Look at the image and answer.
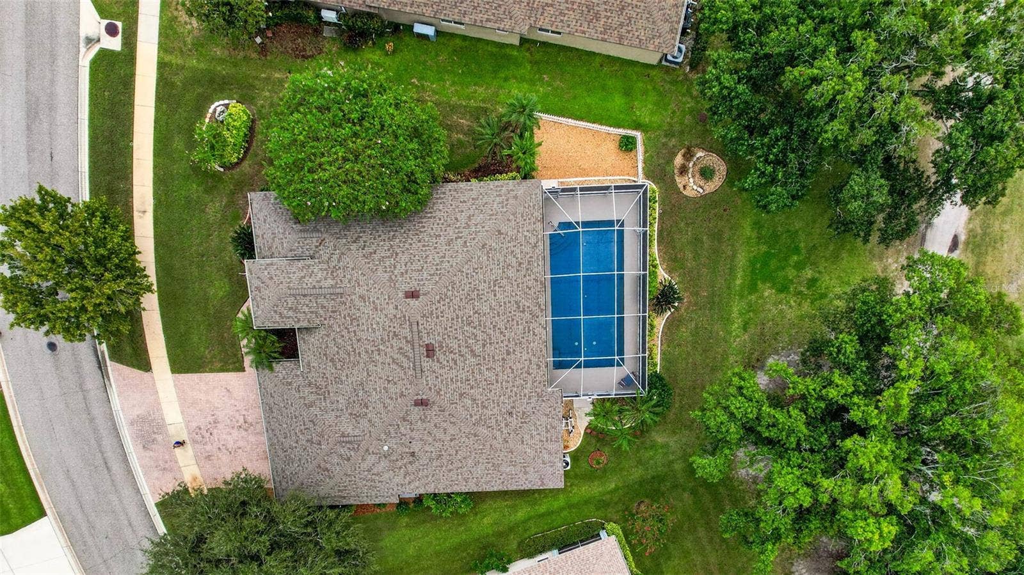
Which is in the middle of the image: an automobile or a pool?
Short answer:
pool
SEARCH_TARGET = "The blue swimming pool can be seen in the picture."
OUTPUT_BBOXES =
[547,215,629,373]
